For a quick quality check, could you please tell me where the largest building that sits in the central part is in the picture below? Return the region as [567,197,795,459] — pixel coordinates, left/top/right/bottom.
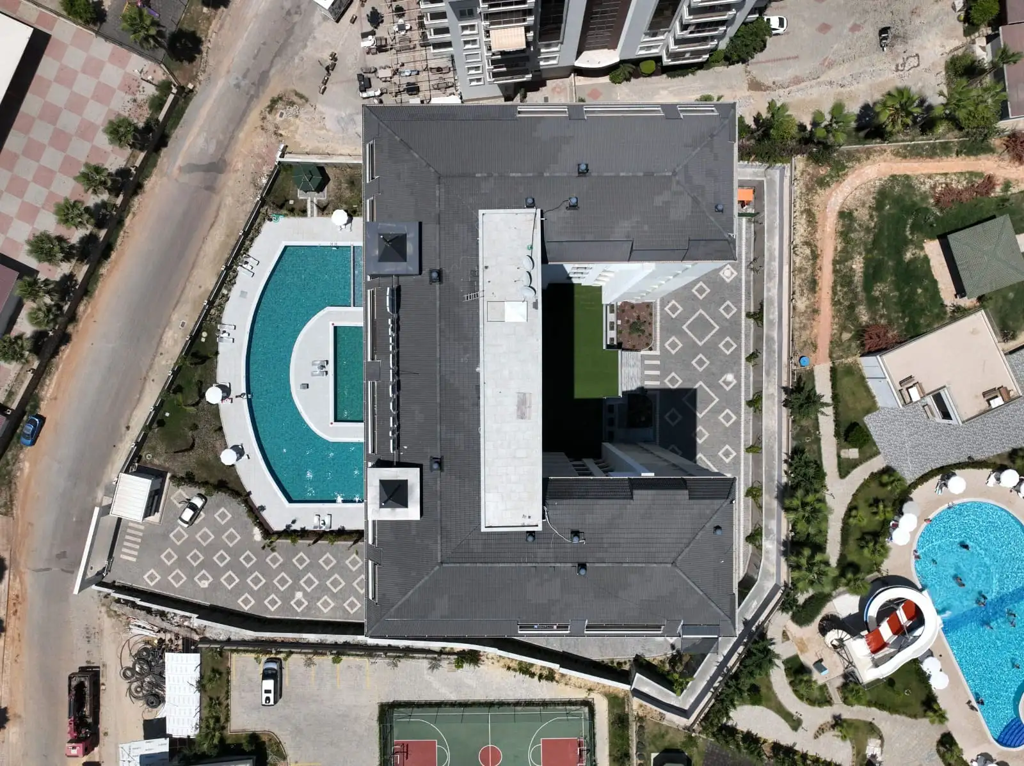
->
[362,102,738,639]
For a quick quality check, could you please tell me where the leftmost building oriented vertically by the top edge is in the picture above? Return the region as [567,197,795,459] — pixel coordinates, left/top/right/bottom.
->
[0,10,49,127]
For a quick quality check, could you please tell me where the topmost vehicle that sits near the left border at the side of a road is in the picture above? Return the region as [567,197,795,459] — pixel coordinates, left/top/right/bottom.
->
[17,411,44,448]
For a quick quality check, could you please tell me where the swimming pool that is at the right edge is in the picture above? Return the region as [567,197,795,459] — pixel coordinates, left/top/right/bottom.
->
[912,497,1024,752]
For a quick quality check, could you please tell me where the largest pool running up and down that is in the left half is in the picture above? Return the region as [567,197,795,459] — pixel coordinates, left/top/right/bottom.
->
[243,240,364,507]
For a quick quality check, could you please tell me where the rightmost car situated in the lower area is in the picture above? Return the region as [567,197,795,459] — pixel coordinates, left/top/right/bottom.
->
[259,659,281,708]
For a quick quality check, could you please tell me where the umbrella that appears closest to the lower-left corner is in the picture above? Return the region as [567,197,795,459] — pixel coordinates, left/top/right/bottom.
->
[219,447,239,465]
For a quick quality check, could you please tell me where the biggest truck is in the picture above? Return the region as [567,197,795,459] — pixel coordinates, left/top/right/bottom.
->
[63,663,101,756]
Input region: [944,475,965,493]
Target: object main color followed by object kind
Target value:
white umbrella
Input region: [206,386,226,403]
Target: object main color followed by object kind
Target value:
white umbrella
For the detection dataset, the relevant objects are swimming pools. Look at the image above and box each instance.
[331,322,364,426]
[912,497,1024,752]
[243,240,364,507]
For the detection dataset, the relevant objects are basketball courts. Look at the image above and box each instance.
[384,706,591,766]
